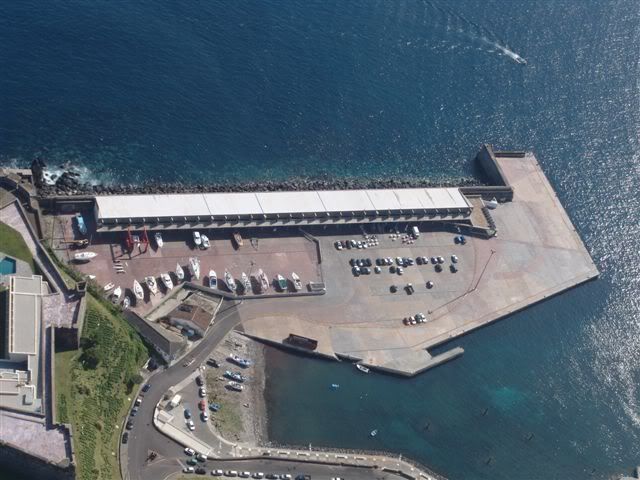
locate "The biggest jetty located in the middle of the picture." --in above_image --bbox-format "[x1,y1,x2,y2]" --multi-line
[52,152,598,379]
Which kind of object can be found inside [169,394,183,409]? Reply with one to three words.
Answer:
vehicle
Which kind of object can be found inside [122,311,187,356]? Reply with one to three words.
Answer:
shed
